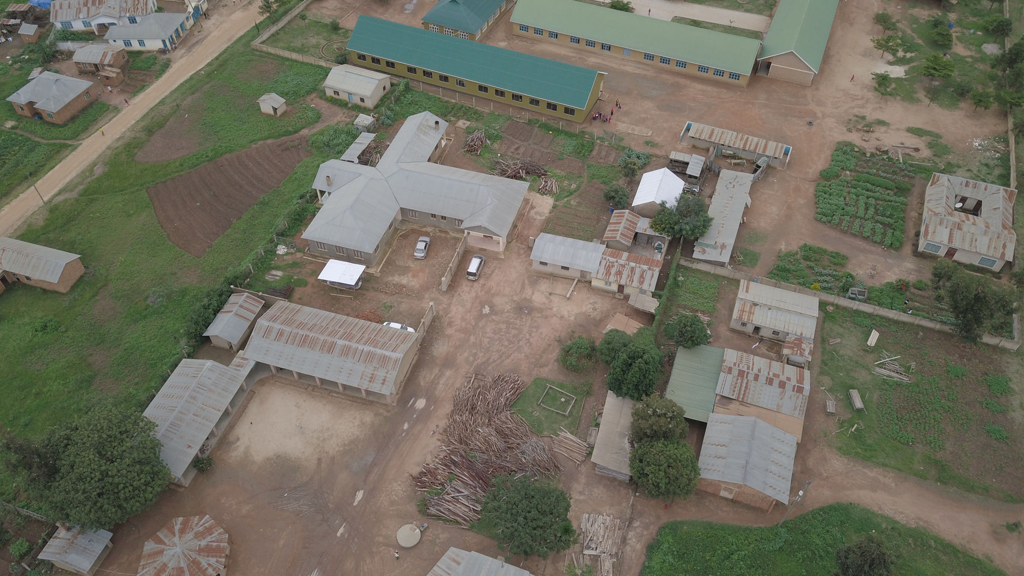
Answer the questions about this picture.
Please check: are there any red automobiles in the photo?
No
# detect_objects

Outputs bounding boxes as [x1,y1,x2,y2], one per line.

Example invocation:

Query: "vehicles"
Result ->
[384,321,417,333]
[413,236,431,260]
[327,281,362,293]
[466,255,486,281]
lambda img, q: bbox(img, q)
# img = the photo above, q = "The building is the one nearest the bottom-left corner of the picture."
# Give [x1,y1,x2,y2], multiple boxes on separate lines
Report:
[42,521,123,576]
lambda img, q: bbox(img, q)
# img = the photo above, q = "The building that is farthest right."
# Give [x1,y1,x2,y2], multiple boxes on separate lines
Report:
[919,170,1012,272]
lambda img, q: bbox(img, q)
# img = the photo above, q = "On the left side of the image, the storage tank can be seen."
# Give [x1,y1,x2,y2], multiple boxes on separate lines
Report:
[394,522,423,552]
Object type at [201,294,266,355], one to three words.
house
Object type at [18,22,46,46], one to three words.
shed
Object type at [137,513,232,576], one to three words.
gazebo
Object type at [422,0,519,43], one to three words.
building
